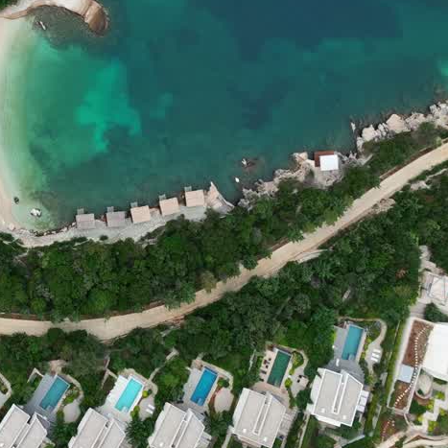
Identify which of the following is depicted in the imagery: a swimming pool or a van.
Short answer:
swimming pool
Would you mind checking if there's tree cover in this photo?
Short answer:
Yes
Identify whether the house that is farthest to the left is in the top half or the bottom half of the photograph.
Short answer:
bottom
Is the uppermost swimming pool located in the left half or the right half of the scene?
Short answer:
right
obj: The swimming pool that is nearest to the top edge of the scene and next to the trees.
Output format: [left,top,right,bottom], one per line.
[340,323,365,361]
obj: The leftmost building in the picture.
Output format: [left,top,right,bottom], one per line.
[0,399,54,448]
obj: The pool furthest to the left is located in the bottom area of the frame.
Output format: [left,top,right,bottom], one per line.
[38,375,71,414]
